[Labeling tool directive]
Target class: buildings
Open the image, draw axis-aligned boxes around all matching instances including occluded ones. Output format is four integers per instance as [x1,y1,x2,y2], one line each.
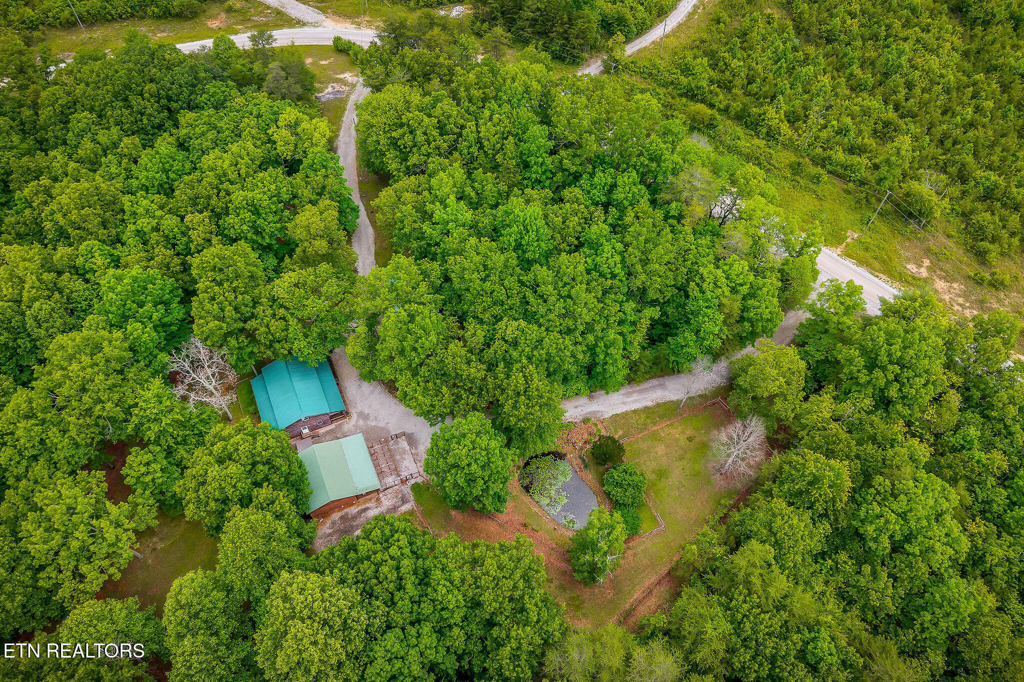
[295,433,381,518]
[251,353,348,440]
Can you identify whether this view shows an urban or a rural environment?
rural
